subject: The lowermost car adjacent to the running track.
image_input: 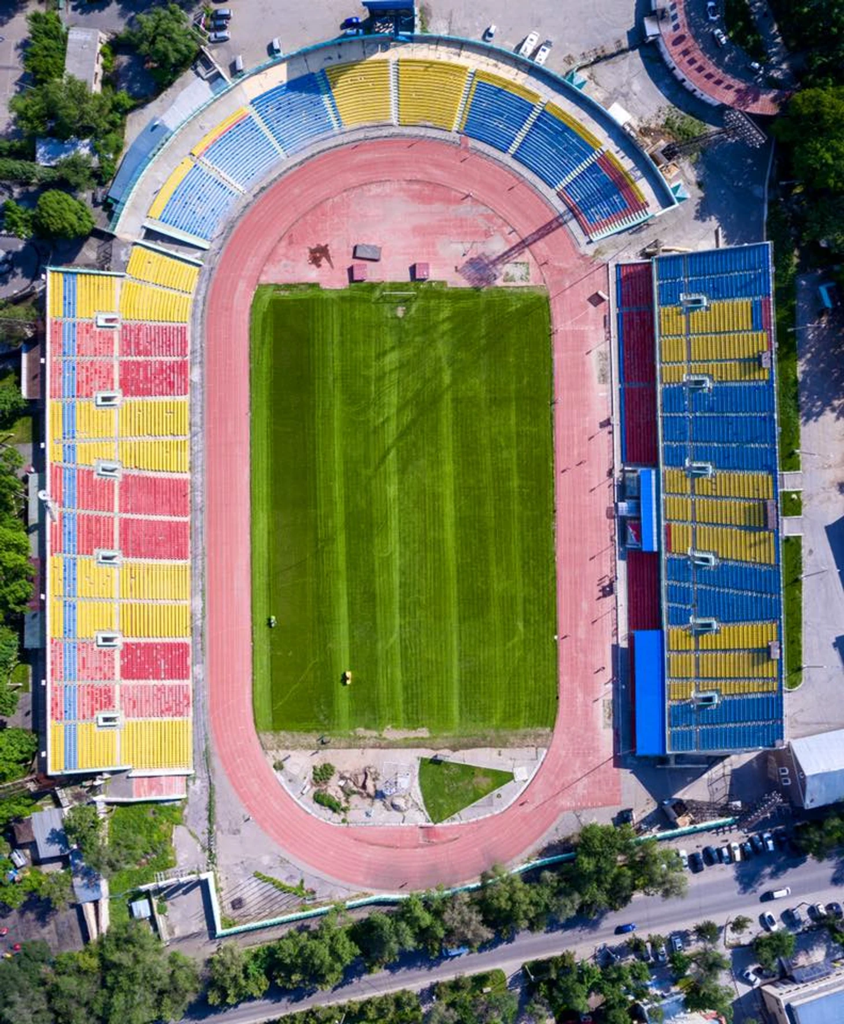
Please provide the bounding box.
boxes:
[620,807,632,829]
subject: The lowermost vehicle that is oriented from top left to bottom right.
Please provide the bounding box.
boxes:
[743,968,765,991]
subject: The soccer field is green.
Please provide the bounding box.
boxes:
[251,282,558,751]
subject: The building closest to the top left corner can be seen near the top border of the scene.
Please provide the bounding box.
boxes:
[64,27,109,96]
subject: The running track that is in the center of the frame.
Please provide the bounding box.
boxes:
[206,138,621,890]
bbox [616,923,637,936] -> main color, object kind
blue vehicle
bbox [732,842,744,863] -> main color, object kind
white vehicle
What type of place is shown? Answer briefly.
sports ground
